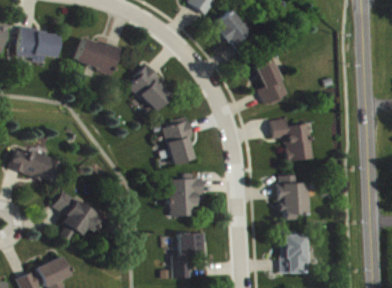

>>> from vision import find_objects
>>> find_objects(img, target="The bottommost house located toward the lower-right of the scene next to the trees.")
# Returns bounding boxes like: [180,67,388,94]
[278,232,309,274]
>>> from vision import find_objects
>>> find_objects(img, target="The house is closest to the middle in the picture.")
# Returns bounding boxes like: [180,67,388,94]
[160,120,198,167]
